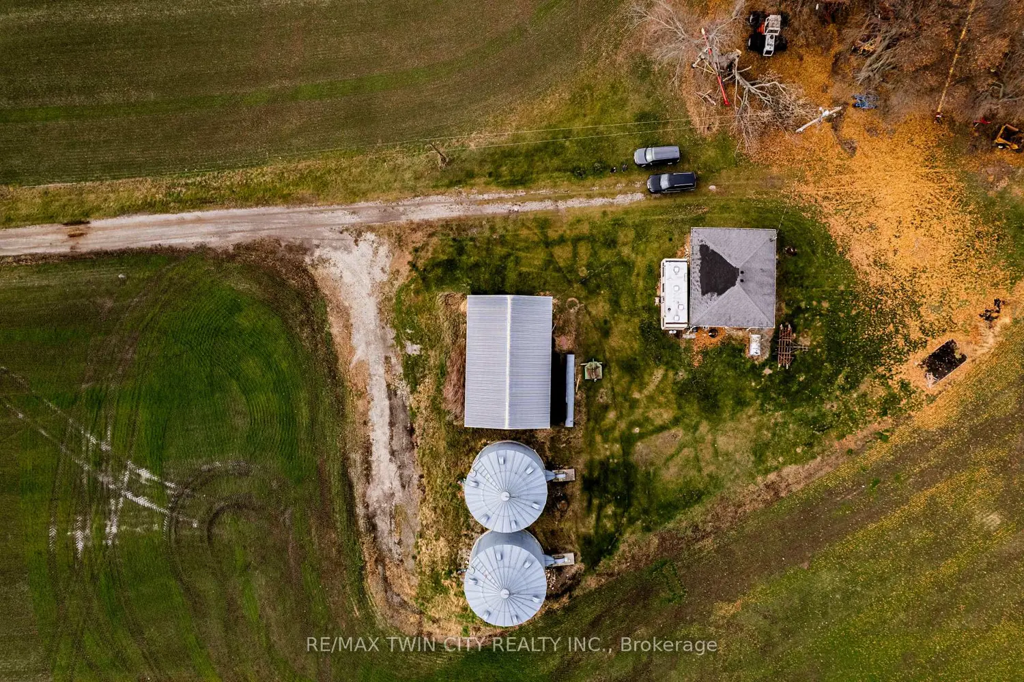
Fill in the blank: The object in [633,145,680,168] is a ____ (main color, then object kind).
gray car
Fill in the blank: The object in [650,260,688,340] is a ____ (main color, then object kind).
white trailer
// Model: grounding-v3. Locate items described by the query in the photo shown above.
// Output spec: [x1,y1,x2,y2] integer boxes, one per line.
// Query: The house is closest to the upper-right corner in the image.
[682,226,783,337]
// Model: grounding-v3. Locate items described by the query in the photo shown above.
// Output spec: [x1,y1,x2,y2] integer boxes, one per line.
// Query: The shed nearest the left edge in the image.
[464,295,553,430]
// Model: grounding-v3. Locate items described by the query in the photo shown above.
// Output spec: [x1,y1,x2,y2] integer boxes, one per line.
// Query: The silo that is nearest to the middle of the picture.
[461,439,577,533]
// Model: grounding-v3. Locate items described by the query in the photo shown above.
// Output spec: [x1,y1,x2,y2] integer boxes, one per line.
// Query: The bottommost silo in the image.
[461,528,576,627]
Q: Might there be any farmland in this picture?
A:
Yes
